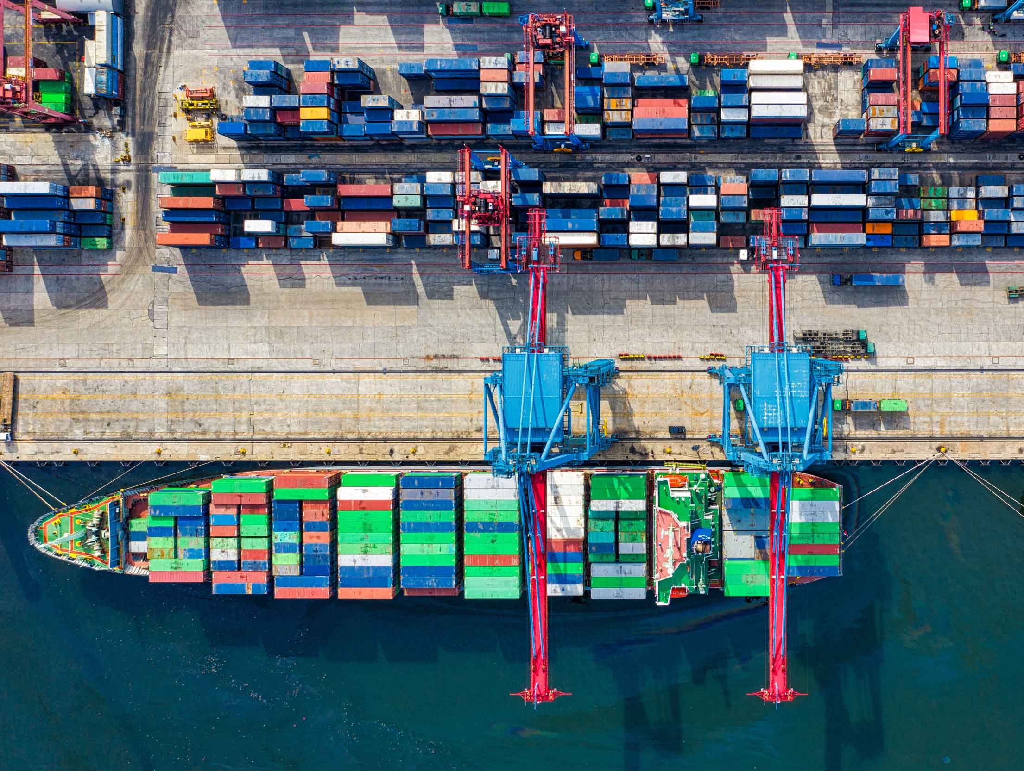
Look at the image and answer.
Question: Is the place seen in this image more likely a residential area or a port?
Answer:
port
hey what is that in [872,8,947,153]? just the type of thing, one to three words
container crane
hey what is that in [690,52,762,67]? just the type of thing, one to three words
vehicle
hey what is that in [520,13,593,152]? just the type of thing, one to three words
container crane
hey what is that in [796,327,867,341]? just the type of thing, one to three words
vehicle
